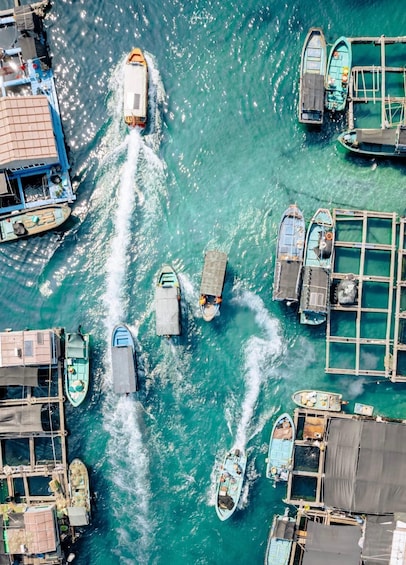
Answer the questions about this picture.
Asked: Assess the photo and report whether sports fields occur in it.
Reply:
No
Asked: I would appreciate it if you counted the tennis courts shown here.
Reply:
none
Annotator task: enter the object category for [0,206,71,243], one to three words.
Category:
boat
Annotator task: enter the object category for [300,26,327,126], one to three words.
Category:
boat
